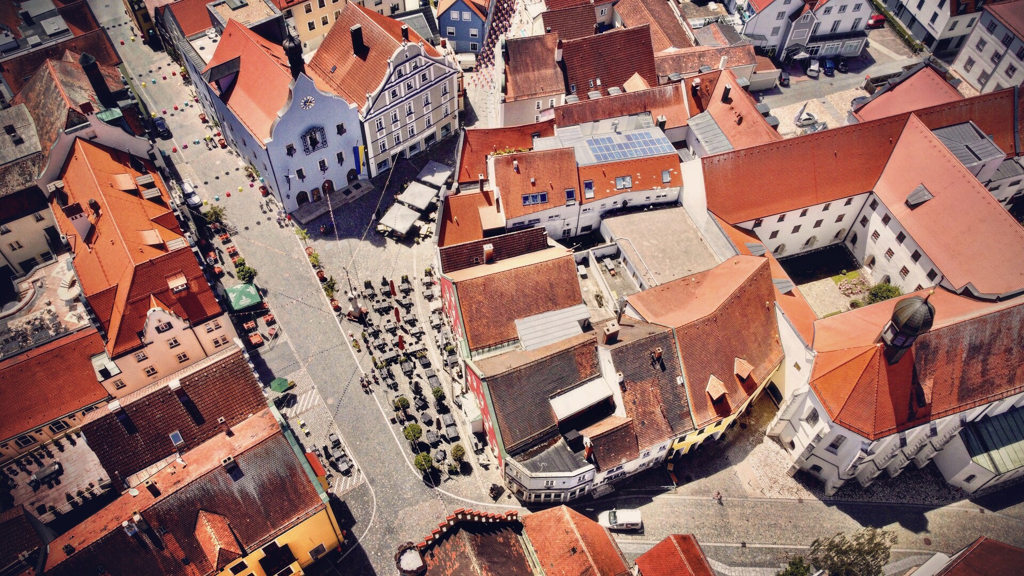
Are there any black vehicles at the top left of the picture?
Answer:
Yes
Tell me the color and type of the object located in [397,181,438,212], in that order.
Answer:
white umbrella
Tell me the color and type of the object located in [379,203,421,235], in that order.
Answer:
white umbrella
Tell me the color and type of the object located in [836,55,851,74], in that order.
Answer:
black car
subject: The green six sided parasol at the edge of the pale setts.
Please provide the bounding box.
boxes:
[271,377,289,400]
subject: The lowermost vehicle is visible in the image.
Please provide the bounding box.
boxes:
[596,504,644,531]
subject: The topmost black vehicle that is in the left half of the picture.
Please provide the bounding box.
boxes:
[150,117,174,140]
